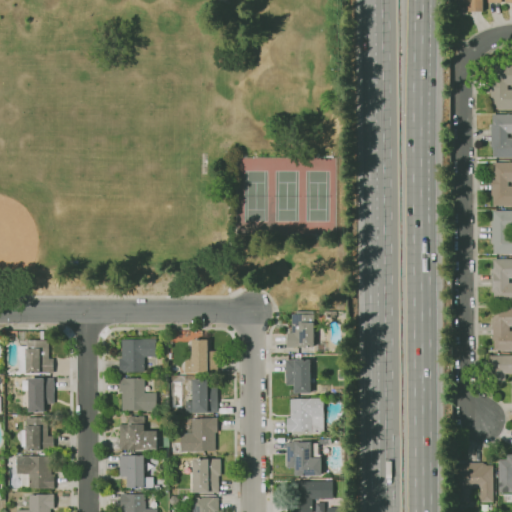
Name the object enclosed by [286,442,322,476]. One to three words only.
house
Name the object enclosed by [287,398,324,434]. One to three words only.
house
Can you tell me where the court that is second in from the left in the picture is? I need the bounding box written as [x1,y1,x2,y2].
[273,158,303,238]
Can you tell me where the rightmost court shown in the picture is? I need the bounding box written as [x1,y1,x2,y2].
[303,158,337,238]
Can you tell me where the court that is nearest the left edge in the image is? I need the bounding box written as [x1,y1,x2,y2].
[242,158,273,238]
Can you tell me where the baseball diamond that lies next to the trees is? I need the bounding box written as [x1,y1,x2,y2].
[0,194,40,273]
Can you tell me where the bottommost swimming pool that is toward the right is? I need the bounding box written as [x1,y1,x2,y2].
[328,446,342,470]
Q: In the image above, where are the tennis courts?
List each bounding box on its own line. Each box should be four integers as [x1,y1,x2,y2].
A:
[273,158,303,238]
[303,158,337,238]
[242,158,273,238]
